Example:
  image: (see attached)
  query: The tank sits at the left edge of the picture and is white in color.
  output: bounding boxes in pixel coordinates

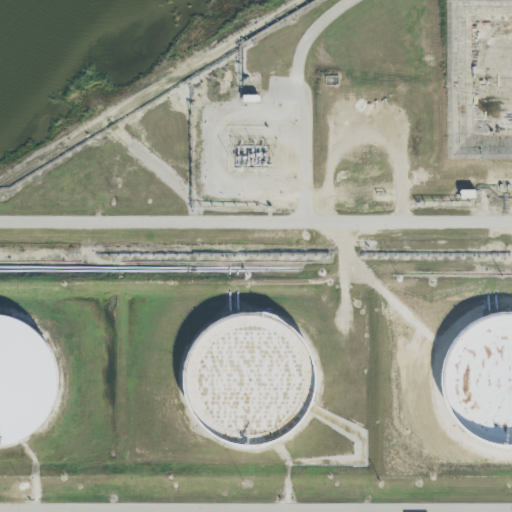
[0,314,61,452]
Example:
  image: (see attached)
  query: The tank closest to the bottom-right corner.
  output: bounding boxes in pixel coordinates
[441,312,512,450]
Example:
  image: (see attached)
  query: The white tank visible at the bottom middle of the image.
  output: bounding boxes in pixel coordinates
[181,312,318,450]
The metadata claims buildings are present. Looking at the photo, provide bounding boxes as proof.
[242,94,262,106]
[460,189,477,201]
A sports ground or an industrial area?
industrial area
